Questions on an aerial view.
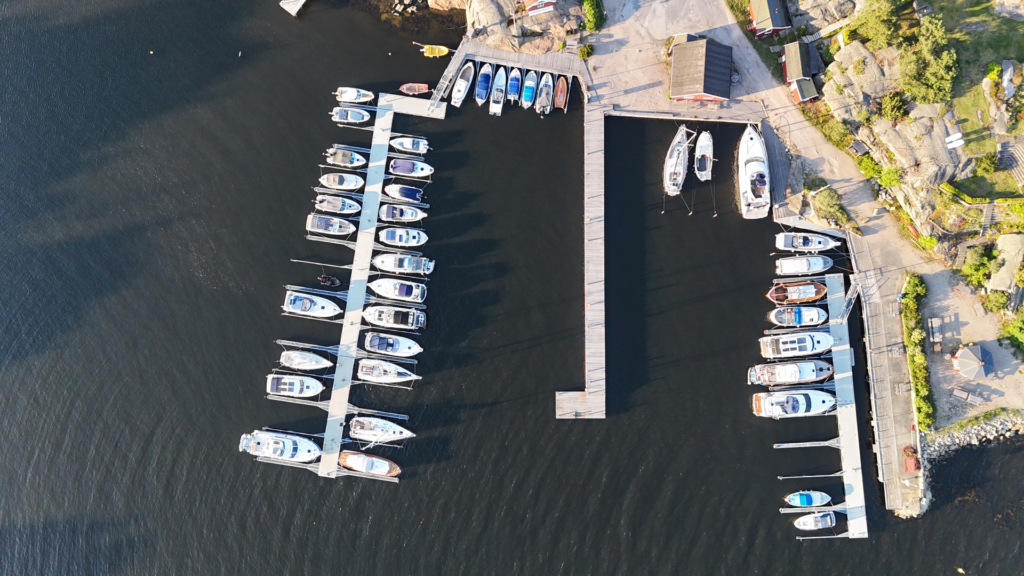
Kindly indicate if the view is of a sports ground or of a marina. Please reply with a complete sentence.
This looks like a marina.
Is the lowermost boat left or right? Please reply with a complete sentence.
The lowermost boat appears in the right half of the scene.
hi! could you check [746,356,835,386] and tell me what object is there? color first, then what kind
white boat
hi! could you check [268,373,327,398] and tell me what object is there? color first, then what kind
white boat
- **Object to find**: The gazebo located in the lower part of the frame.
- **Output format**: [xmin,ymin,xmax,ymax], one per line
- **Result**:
[952,345,994,384]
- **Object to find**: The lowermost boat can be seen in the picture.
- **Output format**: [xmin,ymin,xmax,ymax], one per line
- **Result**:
[792,509,837,531]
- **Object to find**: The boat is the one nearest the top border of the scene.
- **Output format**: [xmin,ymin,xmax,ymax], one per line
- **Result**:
[416,45,459,59]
